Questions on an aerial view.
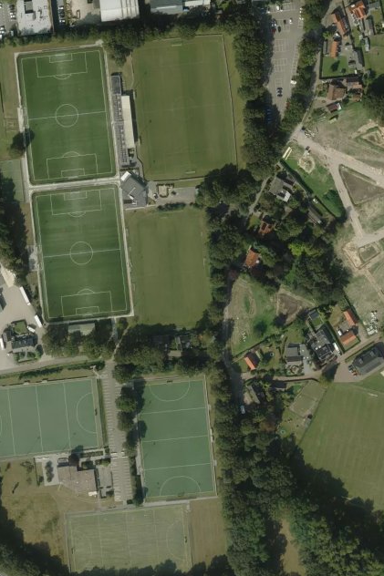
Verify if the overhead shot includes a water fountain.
No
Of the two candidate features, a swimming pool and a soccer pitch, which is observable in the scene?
soccer pitch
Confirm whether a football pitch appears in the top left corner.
Yes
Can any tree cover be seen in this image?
Yes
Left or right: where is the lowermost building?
left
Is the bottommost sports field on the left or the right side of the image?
left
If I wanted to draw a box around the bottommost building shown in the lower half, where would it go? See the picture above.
[58,466,96,495]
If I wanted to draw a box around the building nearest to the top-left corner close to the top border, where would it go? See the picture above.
[17,0,52,35]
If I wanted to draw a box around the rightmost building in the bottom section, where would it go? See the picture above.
[352,347,384,376]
